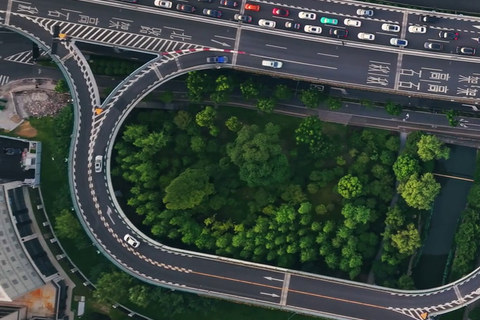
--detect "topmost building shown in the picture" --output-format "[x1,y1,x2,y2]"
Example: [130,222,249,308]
[0,134,51,187]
